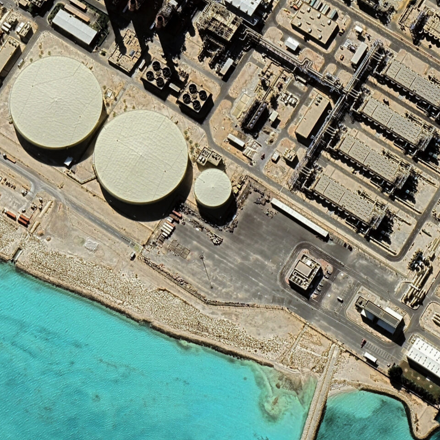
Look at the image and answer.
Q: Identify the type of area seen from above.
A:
industrial area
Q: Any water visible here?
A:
Yes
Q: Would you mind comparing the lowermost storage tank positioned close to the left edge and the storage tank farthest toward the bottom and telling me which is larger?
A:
the lowermost storage tank positioned close to the left edge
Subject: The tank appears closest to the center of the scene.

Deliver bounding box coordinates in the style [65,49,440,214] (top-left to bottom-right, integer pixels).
[194,168,233,210]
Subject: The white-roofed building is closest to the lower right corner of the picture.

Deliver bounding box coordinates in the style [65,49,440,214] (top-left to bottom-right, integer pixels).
[408,337,440,379]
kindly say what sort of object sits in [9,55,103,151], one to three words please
storage tank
